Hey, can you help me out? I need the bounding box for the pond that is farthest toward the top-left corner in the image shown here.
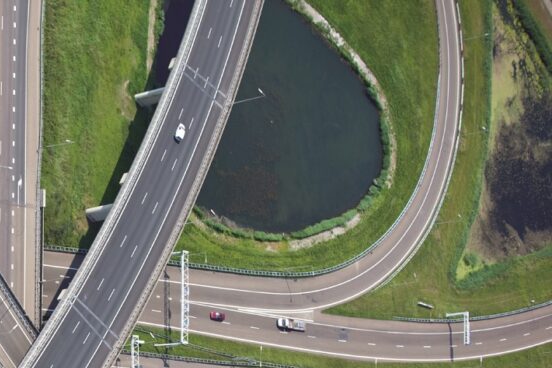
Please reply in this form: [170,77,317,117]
[144,0,383,236]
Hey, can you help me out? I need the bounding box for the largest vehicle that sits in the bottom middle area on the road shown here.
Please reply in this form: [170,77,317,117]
[276,318,306,330]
